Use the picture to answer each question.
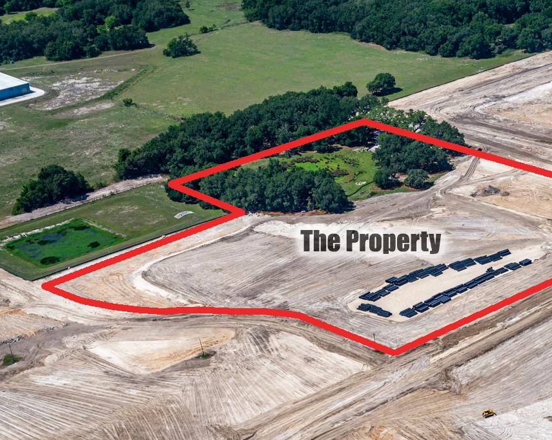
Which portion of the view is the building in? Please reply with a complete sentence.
The building sits in the top left section of the image.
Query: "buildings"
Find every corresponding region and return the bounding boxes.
[0,74,31,99]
